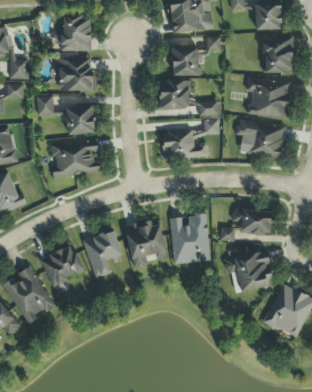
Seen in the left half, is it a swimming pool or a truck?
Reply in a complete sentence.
The feature located in the left half is a swimming pool.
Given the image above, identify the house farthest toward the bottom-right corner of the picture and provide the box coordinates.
[266,286,312,338]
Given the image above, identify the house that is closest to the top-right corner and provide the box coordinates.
[256,2,283,30]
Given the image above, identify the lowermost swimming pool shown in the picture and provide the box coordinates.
[39,58,57,84]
